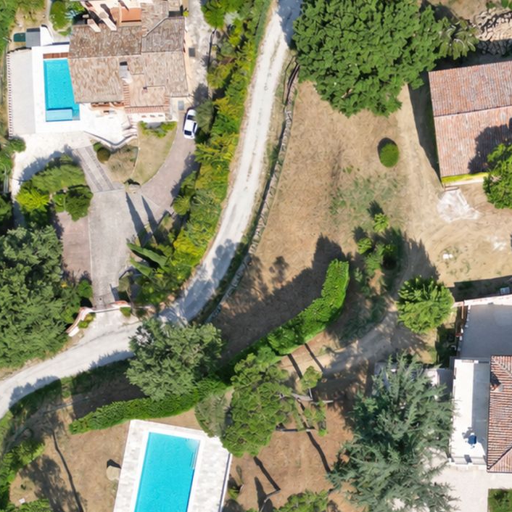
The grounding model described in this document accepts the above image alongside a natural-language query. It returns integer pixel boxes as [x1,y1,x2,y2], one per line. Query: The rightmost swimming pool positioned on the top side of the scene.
[32,45,137,141]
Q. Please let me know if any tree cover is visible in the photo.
Yes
